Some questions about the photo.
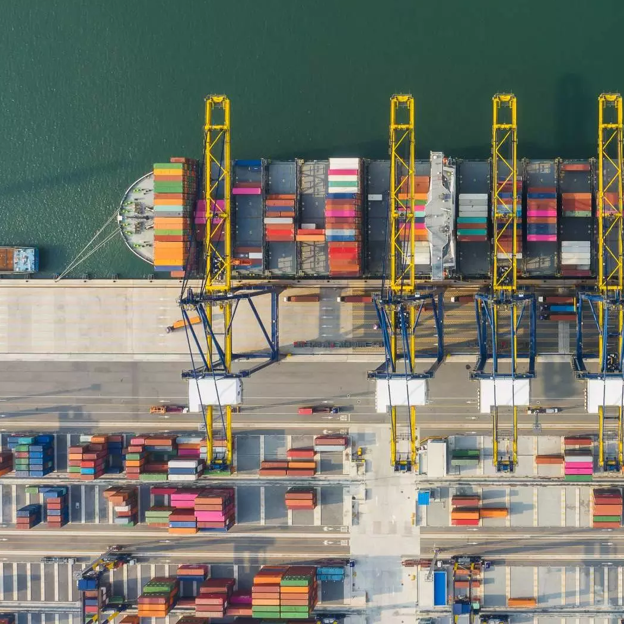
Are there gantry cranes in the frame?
Yes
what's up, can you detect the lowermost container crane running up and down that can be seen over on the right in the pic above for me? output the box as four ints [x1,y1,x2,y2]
[450,557,479,624]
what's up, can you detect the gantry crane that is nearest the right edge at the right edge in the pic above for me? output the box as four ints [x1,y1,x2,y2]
[557,91,624,468]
